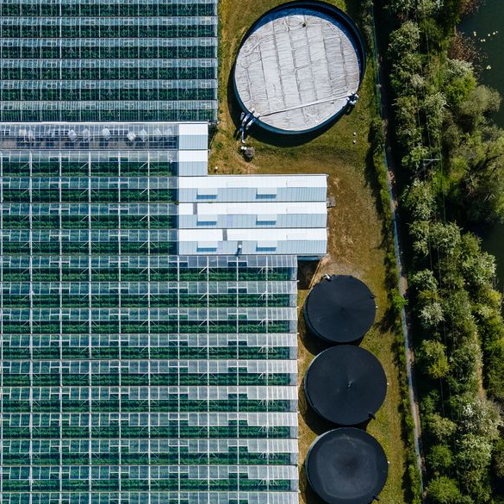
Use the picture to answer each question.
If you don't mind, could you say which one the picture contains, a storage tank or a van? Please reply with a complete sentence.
This aerial view contains a storage tank.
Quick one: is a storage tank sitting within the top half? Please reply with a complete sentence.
Yes, a storage tank appears within the top half.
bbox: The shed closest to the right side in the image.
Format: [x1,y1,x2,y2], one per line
[179,122,327,261]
